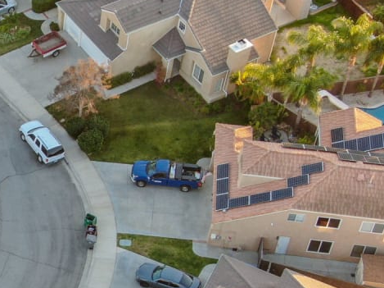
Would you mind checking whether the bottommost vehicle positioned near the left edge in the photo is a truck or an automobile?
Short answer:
automobile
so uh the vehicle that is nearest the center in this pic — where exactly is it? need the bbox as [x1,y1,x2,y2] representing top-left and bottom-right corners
[130,158,206,189]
